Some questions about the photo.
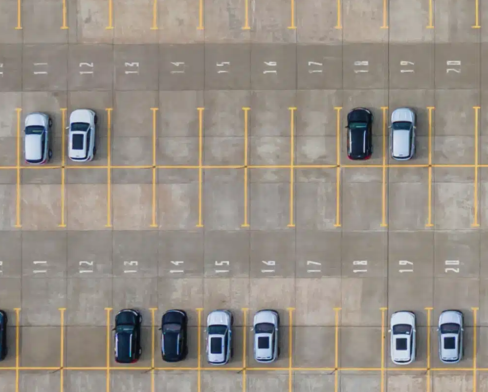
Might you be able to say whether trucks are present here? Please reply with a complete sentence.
No, the scene contains no truck.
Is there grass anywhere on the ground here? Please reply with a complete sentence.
No, the scene doesn't show any grass.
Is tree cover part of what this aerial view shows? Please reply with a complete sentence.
No, there is no tree cover in the image.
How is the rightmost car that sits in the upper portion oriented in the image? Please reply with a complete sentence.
The rightmost car that sits in the upper portion has been laid out from top to bottom relative to the frame.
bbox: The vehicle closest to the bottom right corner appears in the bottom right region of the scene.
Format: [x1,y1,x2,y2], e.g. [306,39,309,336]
[437,309,464,364]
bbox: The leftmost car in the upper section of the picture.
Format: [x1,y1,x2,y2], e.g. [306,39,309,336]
[24,113,52,165]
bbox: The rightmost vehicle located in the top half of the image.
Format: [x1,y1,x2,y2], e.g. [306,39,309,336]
[390,107,417,161]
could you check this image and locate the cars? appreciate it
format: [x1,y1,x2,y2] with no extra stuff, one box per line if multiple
[0,309,8,361]
[390,310,417,364]
[390,107,417,161]
[69,109,97,162]
[206,309,233,365]
[24,113,52,165]
[437,309,464,364]
[114,308,142,362]
[346,107,373,160]
[160,308,188,361]
[252,308,280,362]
